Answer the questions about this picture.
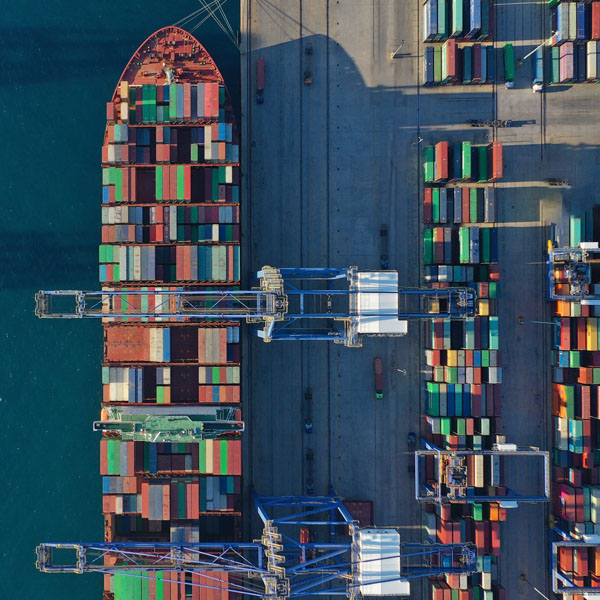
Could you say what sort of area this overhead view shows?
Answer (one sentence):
This image shows a port.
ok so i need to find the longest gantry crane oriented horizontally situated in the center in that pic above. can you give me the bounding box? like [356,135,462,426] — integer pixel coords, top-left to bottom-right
[34,265,475,348]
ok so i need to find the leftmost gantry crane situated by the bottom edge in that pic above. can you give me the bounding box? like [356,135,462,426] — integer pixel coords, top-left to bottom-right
[36,478,478,600]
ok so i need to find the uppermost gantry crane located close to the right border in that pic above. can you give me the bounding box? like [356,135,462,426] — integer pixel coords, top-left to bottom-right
[544,243,600,308]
